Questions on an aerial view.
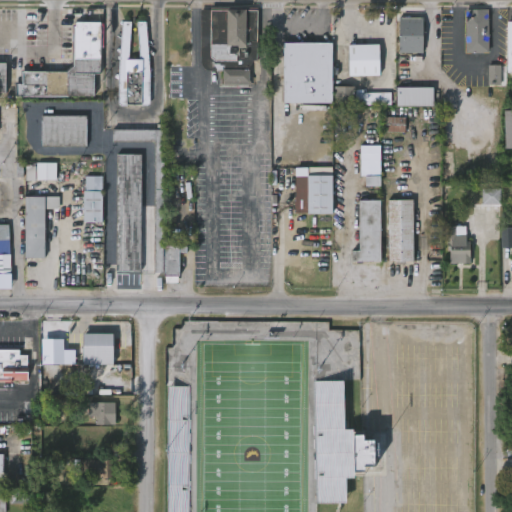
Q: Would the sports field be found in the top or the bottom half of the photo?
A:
bottom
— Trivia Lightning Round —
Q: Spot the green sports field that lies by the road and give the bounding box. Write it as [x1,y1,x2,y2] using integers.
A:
[197,341,308,512]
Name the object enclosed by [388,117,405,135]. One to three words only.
shed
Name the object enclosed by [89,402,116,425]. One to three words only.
house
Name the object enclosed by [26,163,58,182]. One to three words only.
shed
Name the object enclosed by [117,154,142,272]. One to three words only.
building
